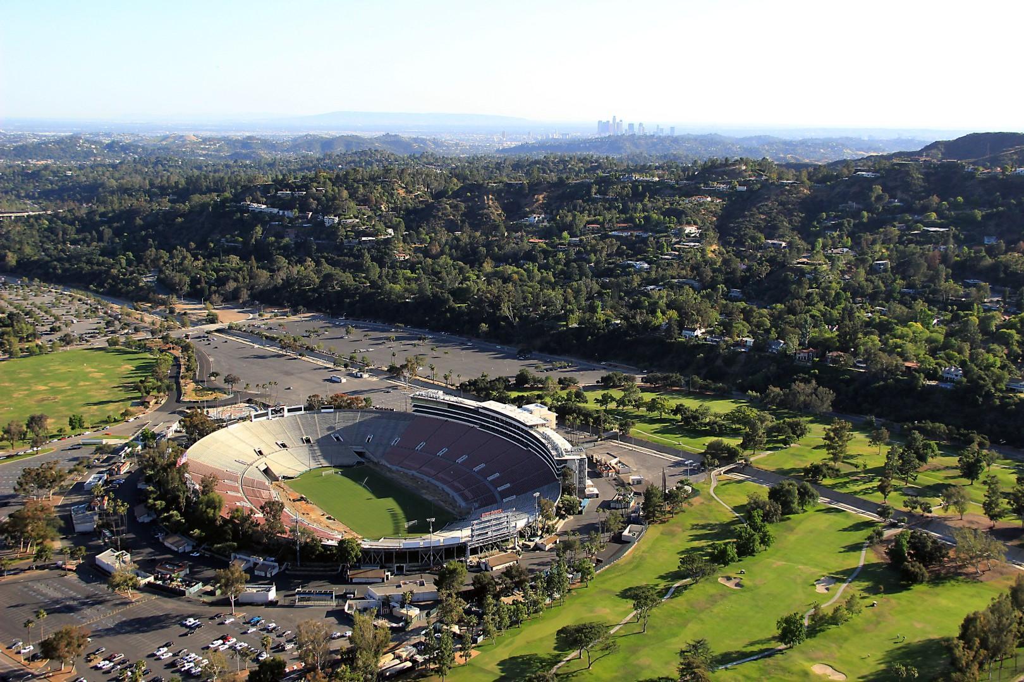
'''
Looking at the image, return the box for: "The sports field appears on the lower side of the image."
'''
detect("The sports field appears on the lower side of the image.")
[284,467,452,539]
